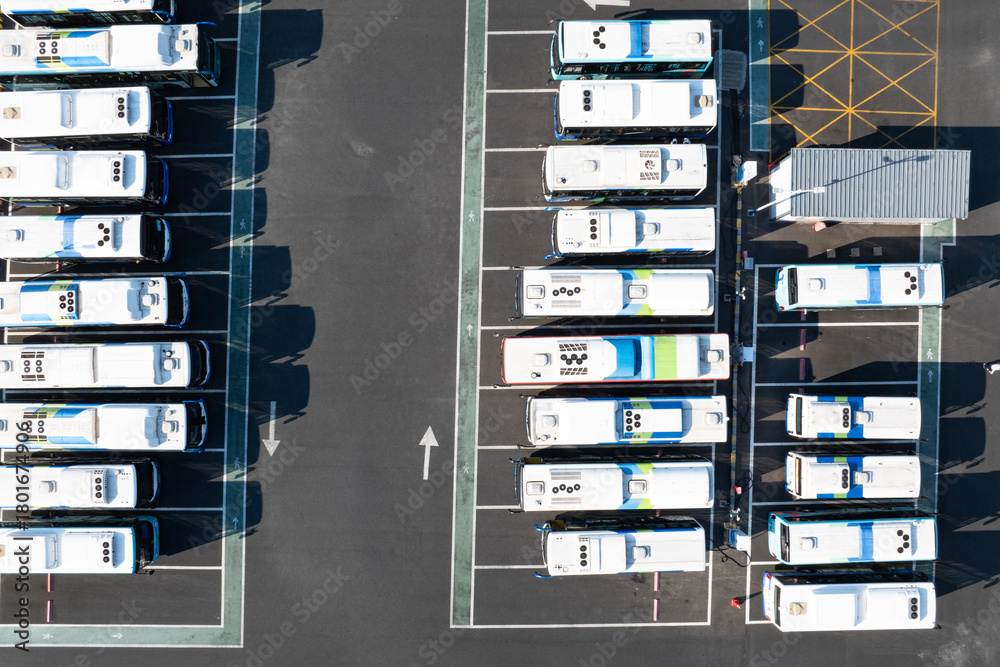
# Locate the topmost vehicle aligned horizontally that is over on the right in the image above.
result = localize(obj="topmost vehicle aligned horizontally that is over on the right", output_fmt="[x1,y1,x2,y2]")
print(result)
[548,20,712,79]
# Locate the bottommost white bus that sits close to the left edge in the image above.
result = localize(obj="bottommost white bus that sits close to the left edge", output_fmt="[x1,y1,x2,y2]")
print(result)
[0,513,162,574]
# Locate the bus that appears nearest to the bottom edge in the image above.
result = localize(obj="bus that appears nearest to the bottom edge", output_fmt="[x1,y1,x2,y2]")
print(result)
[765,565,938,632]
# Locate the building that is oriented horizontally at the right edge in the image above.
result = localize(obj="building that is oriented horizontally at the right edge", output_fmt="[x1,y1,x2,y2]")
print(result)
[770,146,974,226]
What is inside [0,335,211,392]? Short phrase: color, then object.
white bus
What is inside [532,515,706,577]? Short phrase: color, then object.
white bus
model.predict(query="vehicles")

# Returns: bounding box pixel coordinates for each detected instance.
[0,22,219,91]
[514,454,715,513]
[0,86,174,150]
[540,144,707,200]
[778,261,942,311]
[514,266,714,321]
[550,79,717,141]
[765,565,938,632]
[542,207,716,259]
[784,390,921,442]
[532,515,706,577]
[0,513,162,574]
[494,333,730,389]
[0,456,165,510]
[0,398,207,451]
[0,273,189,329]
[0,335,211,392]
[784,447,921,501]
[548,20,712,79]
[0,148,172,207]
[2,0,181,28]
[0,211,176,264]
[771,507,938,564]
[521,390,728,447]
